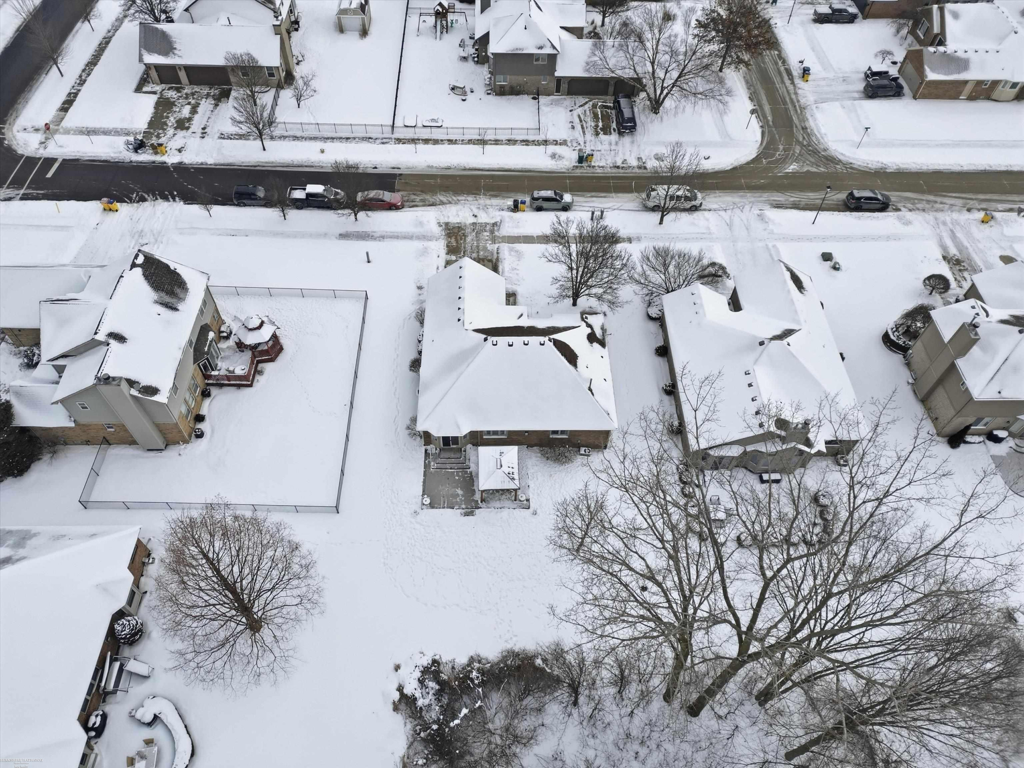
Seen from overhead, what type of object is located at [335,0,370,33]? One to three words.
shed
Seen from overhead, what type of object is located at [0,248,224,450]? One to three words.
house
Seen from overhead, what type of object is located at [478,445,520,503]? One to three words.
gazebo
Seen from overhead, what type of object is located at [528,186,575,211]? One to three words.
car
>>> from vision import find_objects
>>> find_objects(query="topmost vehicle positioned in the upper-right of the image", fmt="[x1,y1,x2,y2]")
[815,2,862,22]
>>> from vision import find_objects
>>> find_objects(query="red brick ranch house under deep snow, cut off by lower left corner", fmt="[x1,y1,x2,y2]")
[0,525,150,768]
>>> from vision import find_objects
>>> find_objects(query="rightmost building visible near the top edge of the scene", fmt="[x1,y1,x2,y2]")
[902,0,1024,103]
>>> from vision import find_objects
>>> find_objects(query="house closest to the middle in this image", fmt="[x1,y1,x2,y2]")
[416,258,619,449]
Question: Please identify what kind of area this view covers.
residential area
